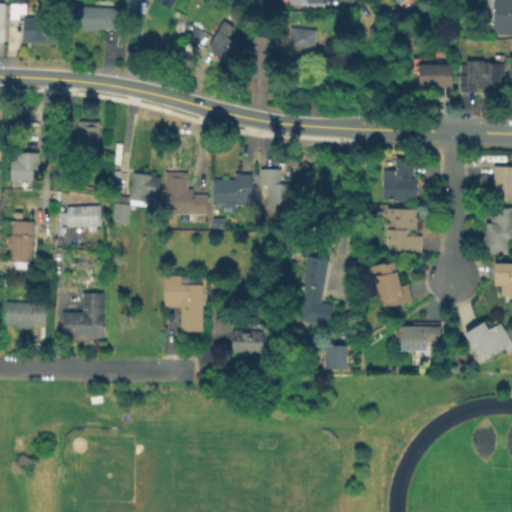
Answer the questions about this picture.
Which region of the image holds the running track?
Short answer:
bottom right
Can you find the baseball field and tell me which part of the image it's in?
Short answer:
bottom left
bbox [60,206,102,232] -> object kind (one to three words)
house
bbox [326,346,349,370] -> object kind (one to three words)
house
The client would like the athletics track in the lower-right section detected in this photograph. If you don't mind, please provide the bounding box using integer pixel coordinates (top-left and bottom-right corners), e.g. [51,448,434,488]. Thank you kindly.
[388,395,512,512]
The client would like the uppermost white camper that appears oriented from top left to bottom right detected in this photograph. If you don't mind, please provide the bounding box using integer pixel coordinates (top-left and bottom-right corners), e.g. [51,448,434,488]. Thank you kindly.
[191,18,206,32]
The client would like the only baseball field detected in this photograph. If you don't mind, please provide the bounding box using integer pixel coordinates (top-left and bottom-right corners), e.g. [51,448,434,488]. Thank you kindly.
[66,434,144,512]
